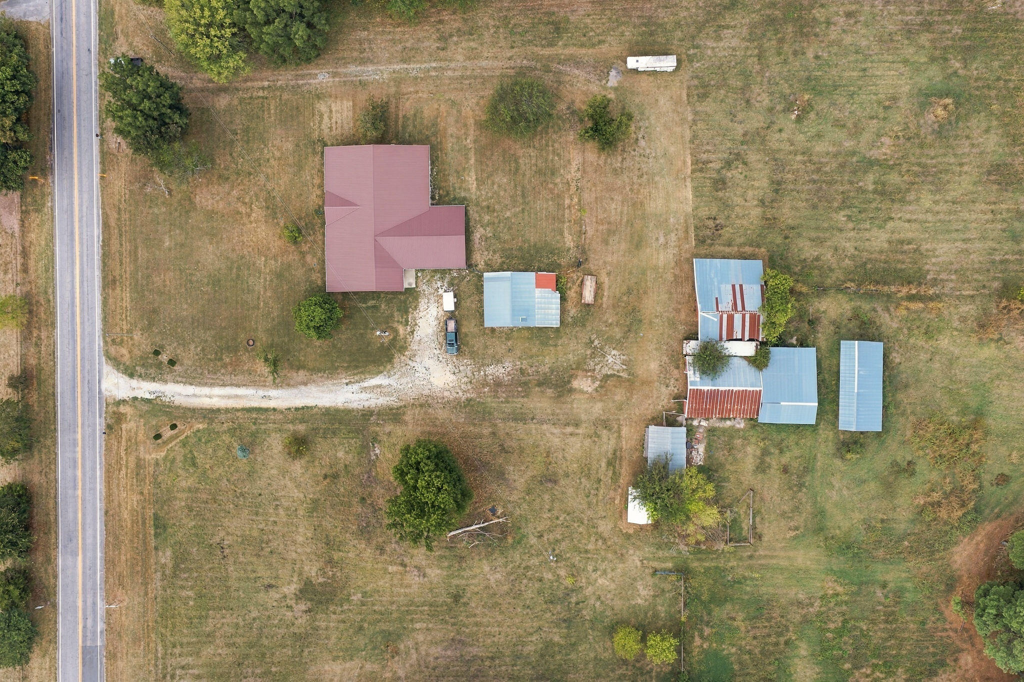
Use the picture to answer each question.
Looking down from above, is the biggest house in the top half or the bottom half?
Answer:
top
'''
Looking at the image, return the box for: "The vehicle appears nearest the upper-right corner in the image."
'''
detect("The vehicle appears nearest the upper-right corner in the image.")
[626,55,676,73]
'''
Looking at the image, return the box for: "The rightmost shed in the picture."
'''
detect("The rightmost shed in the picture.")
[838,340,884,432]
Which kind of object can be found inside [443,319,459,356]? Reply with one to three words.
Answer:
vehicle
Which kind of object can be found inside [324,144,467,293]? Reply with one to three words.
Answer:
house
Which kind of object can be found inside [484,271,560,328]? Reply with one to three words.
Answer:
building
